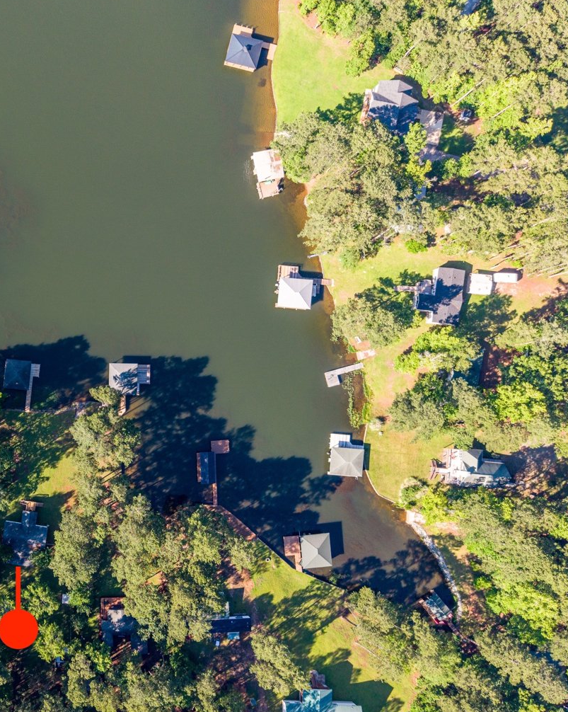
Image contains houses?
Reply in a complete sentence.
Yes, there is a house in the image.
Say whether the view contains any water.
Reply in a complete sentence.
Yes, there's water in this view.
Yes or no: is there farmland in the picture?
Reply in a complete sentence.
No, there is no farmland in the image.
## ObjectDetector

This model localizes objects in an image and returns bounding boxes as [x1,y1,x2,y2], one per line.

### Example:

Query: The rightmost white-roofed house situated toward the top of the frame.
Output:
[464,273,493,294]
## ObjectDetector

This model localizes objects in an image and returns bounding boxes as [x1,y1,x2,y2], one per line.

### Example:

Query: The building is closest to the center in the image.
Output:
[275,264,319,311]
